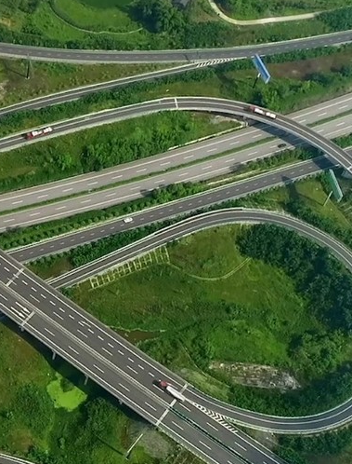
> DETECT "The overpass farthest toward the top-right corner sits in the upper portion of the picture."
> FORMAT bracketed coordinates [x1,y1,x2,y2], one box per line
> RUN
[172,96,352,171]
